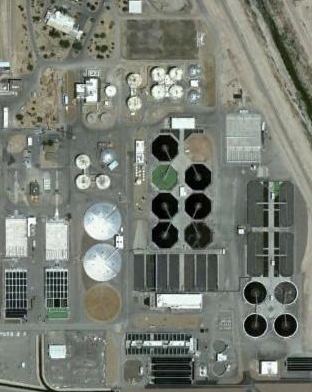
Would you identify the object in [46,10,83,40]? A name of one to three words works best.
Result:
building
